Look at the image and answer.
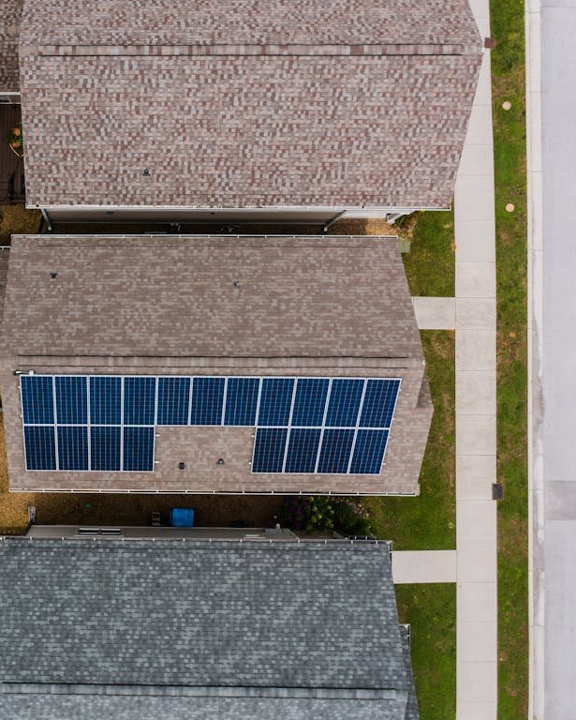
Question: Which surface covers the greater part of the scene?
buildings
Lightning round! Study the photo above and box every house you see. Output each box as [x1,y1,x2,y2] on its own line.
[0,233,434,494]
[0,520,420,720]
[19,0,485,234]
